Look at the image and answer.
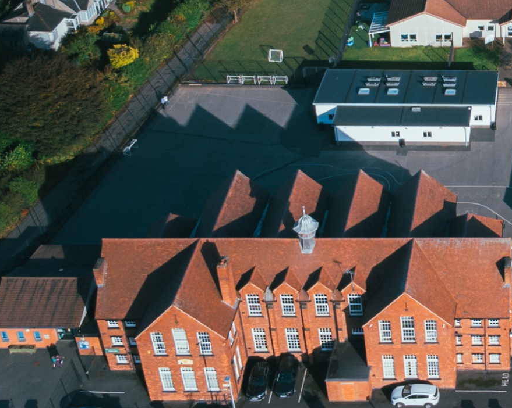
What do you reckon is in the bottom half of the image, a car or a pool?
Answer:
car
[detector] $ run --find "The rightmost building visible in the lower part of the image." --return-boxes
[84,169,512,400]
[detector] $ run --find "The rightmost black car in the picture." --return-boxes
[271,355,299,394]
